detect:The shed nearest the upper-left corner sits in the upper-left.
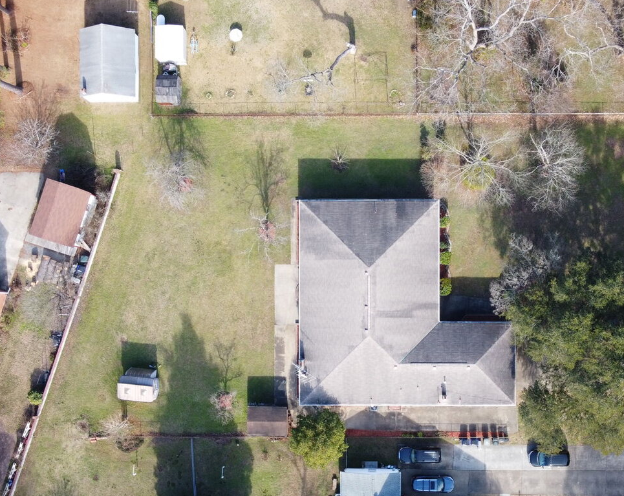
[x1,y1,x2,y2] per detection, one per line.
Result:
[78,24,141,102]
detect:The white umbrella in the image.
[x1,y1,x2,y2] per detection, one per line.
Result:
[231,28,244,43]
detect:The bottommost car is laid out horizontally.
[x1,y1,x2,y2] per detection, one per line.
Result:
[413,477,454,496]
